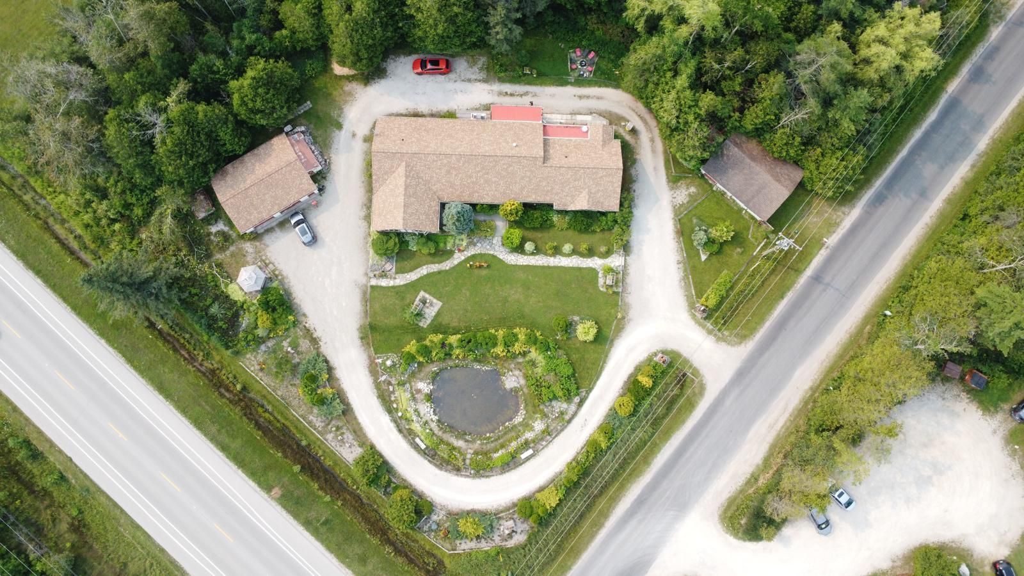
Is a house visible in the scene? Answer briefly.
Yes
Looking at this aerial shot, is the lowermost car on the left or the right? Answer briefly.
right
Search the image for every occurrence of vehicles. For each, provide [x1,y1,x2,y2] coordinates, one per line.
[1002,395,1024,427]
[289,210,318,250]
[990,554,1017,576]
[804,503,835,541]
[412,56,451,76]
[828,480,860,516]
